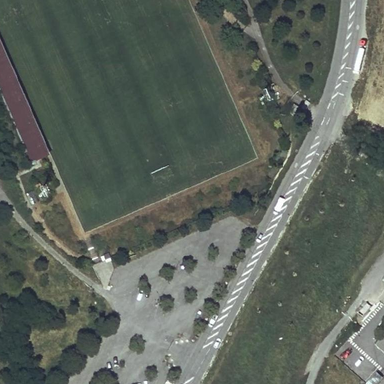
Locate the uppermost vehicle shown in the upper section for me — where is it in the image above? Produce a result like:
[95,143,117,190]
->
[354,40,367,72]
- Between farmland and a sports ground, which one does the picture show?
sports ground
